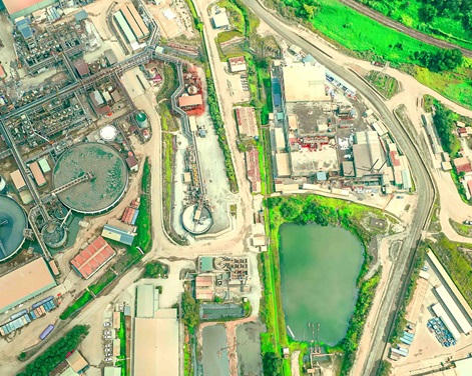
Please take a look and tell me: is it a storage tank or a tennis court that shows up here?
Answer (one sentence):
It is a storage tank that can be seen here.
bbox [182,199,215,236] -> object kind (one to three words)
storage tank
